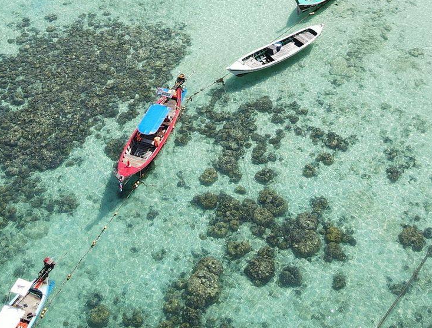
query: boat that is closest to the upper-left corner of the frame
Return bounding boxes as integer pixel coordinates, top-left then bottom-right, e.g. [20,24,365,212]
[116,54,198,186]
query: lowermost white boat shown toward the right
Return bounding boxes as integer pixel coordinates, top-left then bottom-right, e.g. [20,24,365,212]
[231,25,323,73]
